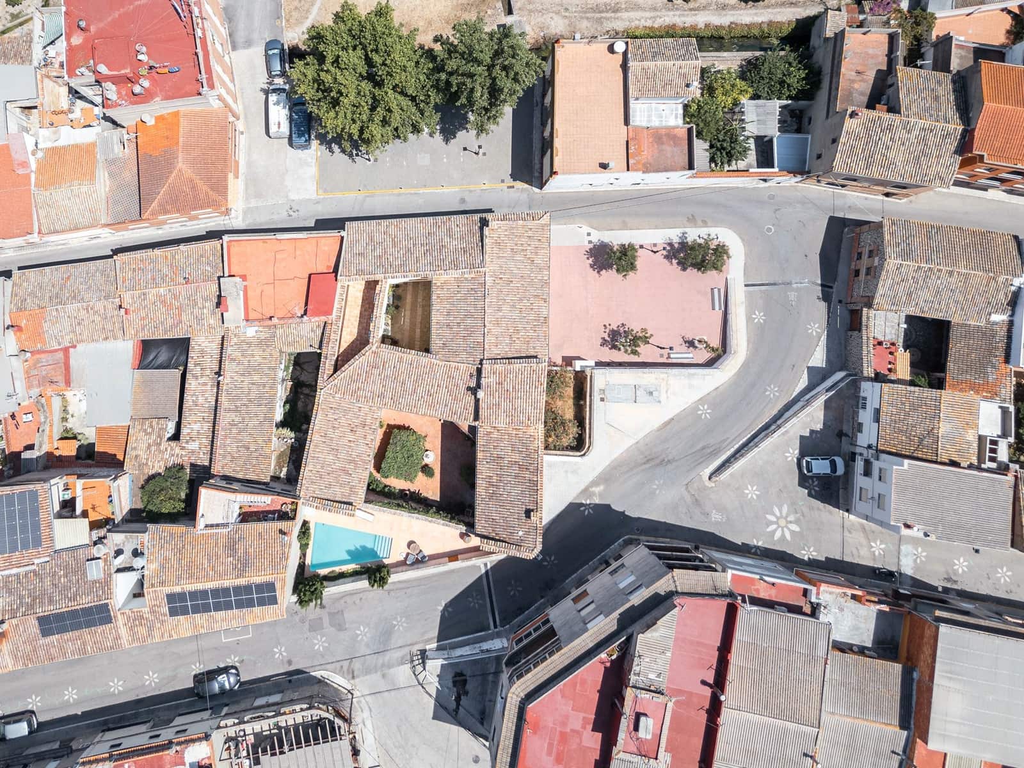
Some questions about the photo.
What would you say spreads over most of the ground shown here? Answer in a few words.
buildings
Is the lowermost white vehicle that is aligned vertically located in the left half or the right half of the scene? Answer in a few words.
left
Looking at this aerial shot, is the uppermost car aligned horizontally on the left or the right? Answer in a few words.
right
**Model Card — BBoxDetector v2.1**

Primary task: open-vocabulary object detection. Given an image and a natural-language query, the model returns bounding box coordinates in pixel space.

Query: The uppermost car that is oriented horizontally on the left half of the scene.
[195,667,241,694]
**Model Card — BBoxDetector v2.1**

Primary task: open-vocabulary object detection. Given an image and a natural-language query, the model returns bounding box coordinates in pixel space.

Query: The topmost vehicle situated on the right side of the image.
[799,455,842,476]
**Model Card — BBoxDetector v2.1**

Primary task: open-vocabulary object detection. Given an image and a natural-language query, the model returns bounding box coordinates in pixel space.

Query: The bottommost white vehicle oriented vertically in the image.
[266,86,289,140]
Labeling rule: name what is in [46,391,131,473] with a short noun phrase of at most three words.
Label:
house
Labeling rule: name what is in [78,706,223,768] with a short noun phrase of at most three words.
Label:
house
